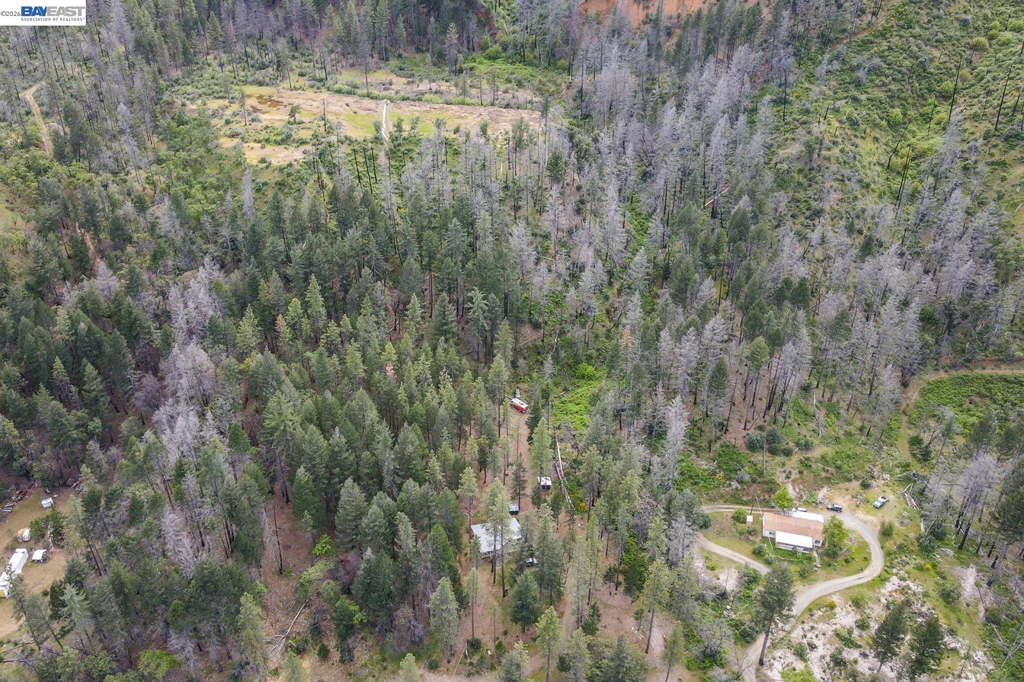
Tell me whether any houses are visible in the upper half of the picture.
No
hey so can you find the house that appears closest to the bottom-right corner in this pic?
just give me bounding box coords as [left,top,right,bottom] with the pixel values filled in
[763,507,827,563]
